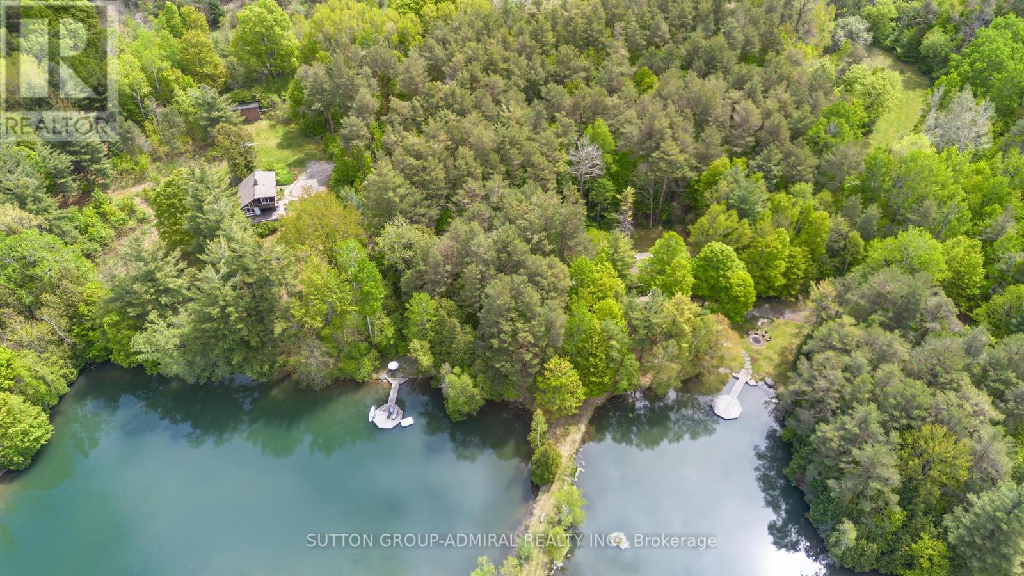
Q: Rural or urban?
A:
rural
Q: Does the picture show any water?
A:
Yes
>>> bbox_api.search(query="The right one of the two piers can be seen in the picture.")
[711,369,751,420]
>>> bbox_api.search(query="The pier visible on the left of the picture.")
[373,378,409,429]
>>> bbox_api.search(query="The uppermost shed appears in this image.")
[232,100,262,124]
